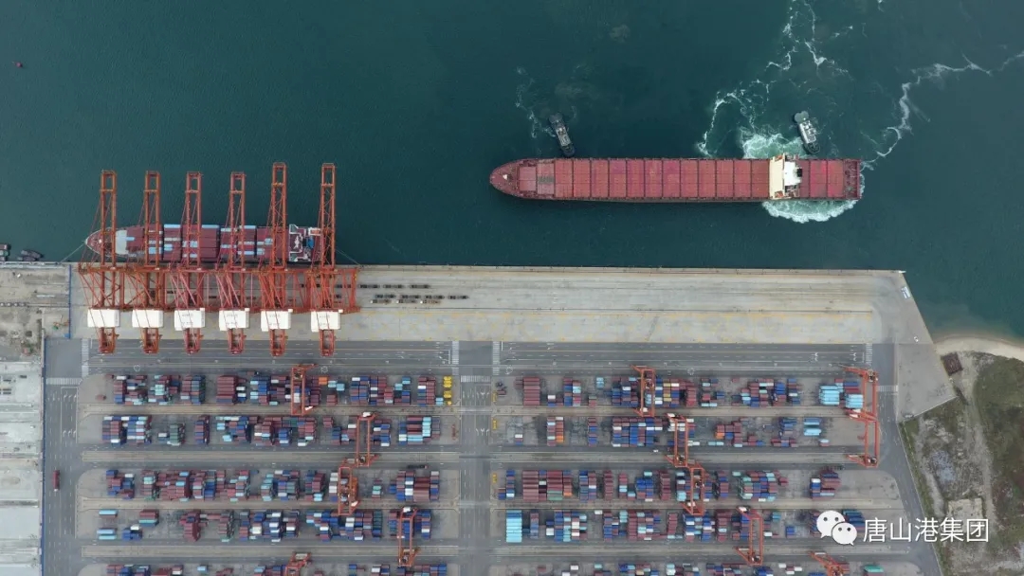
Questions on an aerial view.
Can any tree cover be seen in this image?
No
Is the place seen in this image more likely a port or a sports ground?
port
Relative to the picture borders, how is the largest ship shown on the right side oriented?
horizontally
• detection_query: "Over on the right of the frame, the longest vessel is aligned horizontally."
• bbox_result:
[490,150,861,203]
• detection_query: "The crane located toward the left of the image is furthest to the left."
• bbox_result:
[71,169,154,356]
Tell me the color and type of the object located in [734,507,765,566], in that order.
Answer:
red crane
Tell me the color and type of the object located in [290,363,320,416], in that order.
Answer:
red crane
